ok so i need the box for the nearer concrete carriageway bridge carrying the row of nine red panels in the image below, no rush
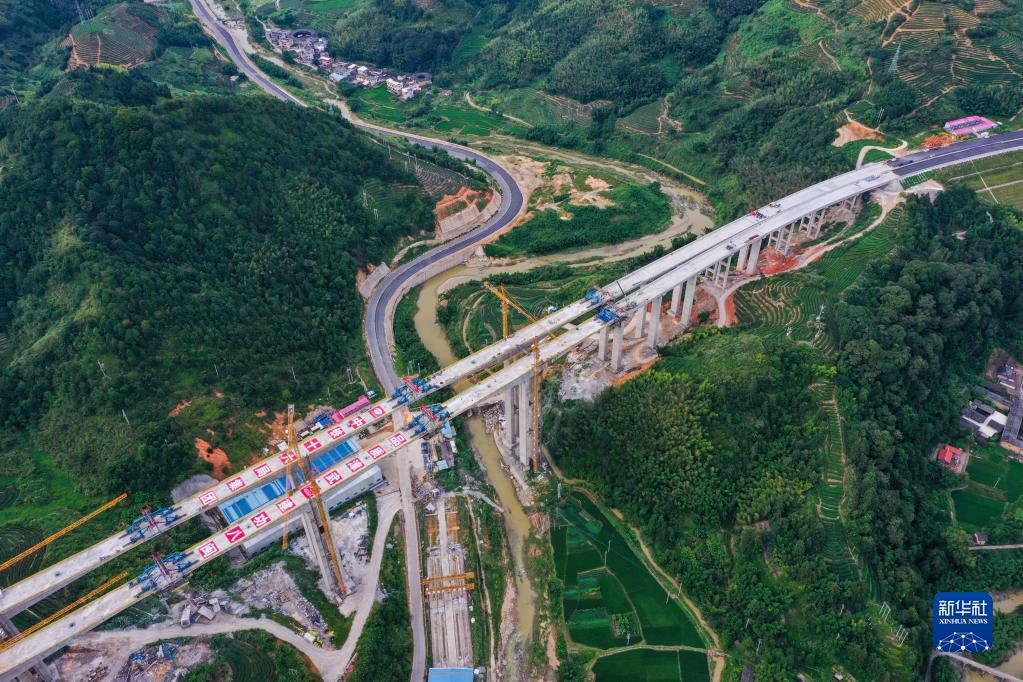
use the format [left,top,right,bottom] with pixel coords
[0,170,911,682]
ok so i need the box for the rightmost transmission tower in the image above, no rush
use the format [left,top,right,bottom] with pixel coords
[889,39,906,72]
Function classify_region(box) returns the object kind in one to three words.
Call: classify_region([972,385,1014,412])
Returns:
house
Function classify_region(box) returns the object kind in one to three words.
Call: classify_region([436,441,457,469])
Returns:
shed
